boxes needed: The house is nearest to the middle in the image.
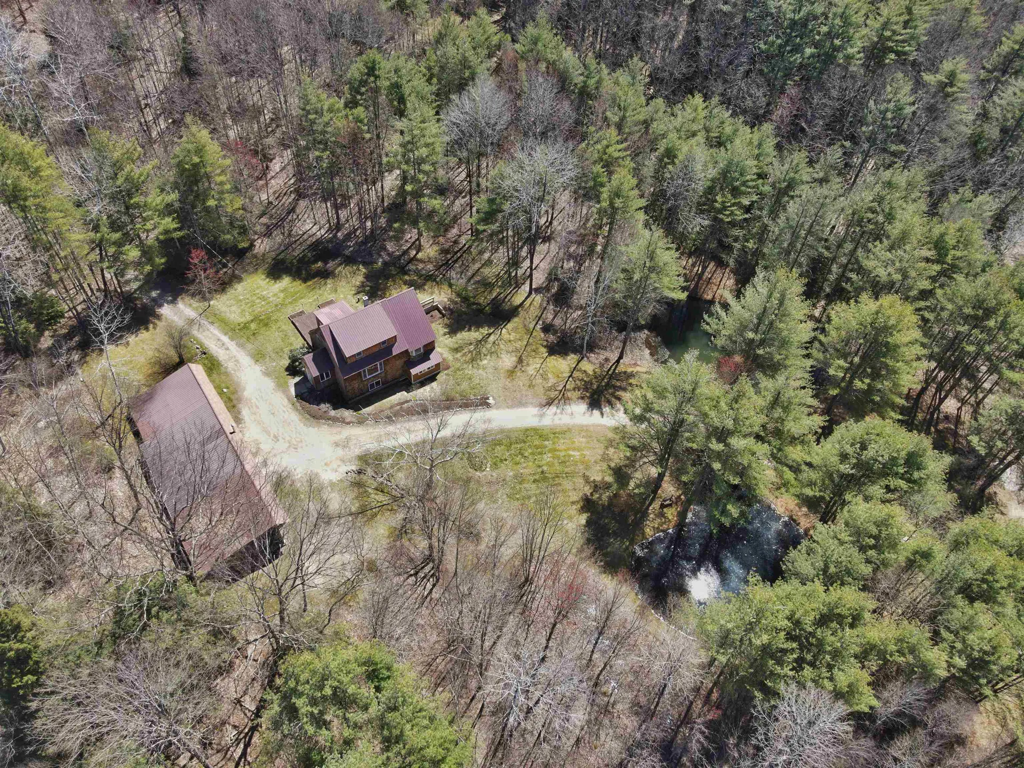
[289,286,443,402]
